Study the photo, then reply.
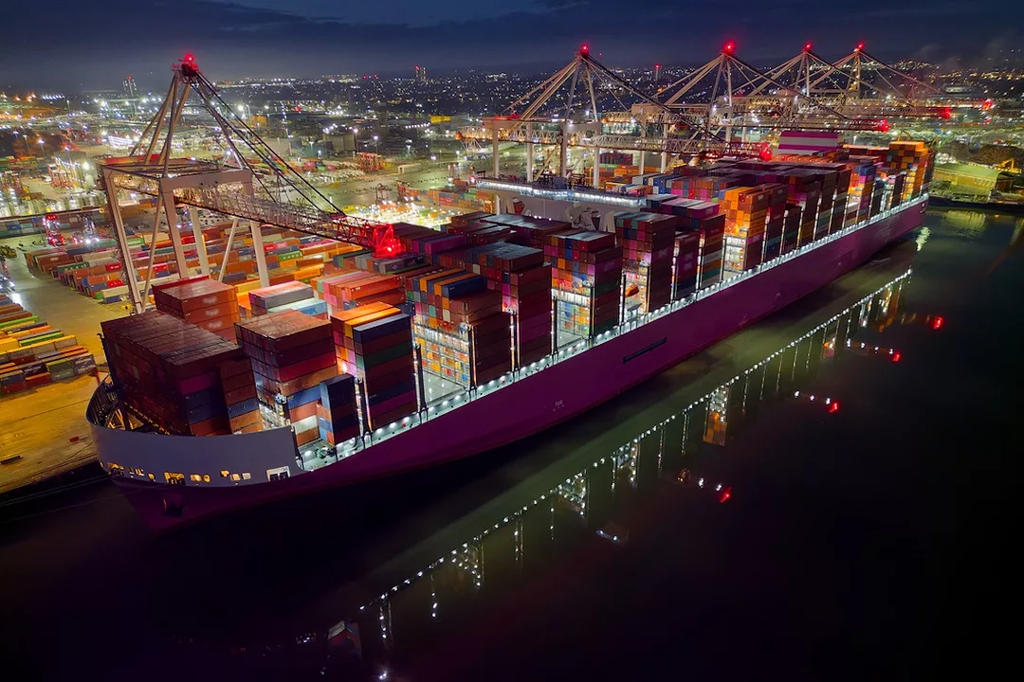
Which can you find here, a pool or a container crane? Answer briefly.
container crane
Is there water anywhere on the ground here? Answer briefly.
Yes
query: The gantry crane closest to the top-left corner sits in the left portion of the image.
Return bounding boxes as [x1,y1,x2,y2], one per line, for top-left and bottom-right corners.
[91,55,410,322]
